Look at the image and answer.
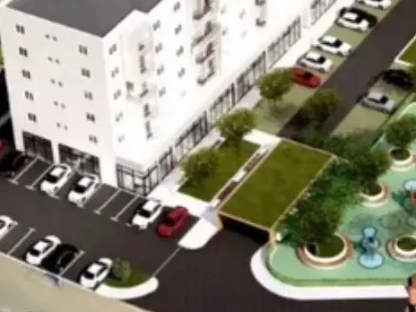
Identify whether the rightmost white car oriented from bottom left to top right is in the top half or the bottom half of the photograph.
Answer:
bottom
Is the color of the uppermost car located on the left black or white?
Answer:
black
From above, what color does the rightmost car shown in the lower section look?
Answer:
red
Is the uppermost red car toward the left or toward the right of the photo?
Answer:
right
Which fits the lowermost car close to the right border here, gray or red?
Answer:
gray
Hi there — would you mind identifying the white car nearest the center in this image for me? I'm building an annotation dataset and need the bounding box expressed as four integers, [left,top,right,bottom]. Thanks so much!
[129,198,165,227]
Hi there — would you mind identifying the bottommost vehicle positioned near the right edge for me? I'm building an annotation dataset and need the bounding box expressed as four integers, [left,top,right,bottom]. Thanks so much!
[361,89,399,112]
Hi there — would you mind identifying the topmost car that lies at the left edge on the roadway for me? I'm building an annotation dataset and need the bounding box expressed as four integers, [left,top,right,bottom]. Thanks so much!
[0,148,28,176]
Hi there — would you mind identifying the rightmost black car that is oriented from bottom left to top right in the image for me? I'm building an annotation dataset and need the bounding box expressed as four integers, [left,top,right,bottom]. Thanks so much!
[42,241,79,271]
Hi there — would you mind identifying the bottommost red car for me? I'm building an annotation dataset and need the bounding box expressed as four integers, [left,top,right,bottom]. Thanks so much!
[158,207,190,235]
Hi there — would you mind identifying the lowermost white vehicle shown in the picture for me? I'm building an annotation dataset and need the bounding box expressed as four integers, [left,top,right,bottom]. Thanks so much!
[77,255,114,287]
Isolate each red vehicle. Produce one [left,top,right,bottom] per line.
[158,207,190,235]
[287,67,324,88]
